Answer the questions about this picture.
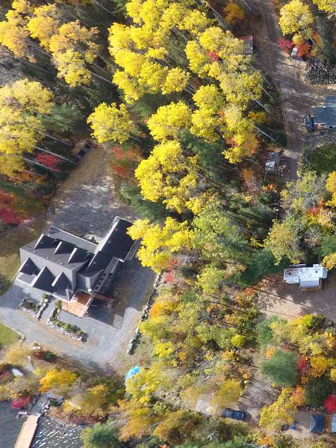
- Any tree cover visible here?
Yes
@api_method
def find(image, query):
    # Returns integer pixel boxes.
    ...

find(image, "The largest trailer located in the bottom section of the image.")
[278,263,327,295]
